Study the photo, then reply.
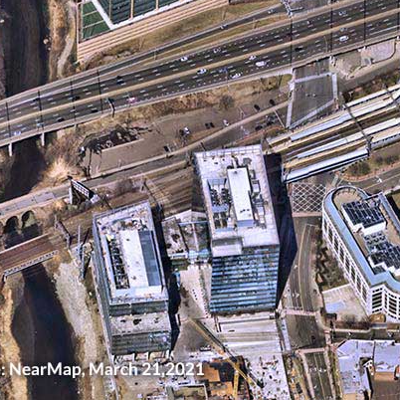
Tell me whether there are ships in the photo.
No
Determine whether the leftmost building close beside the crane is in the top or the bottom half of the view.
bottom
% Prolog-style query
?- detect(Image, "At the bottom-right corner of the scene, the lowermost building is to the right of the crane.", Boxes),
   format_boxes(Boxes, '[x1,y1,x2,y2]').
[337,340,400,400]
